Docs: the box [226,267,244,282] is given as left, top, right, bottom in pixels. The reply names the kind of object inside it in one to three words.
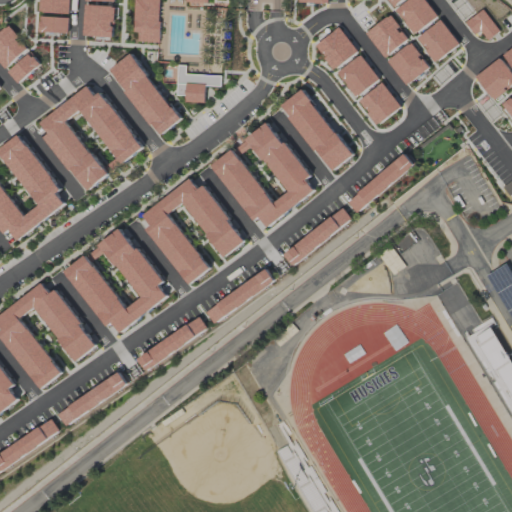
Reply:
vehicle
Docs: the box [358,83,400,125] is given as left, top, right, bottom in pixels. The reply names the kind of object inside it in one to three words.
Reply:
house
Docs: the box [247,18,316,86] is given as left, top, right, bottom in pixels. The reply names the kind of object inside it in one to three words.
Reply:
roundabout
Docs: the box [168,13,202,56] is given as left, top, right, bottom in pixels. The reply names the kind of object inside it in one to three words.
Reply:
swimming pool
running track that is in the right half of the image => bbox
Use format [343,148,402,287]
[290,302,512,512]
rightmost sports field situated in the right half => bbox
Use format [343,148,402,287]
[312,340,512,512]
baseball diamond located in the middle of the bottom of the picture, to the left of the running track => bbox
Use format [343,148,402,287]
[151,372,284,504]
